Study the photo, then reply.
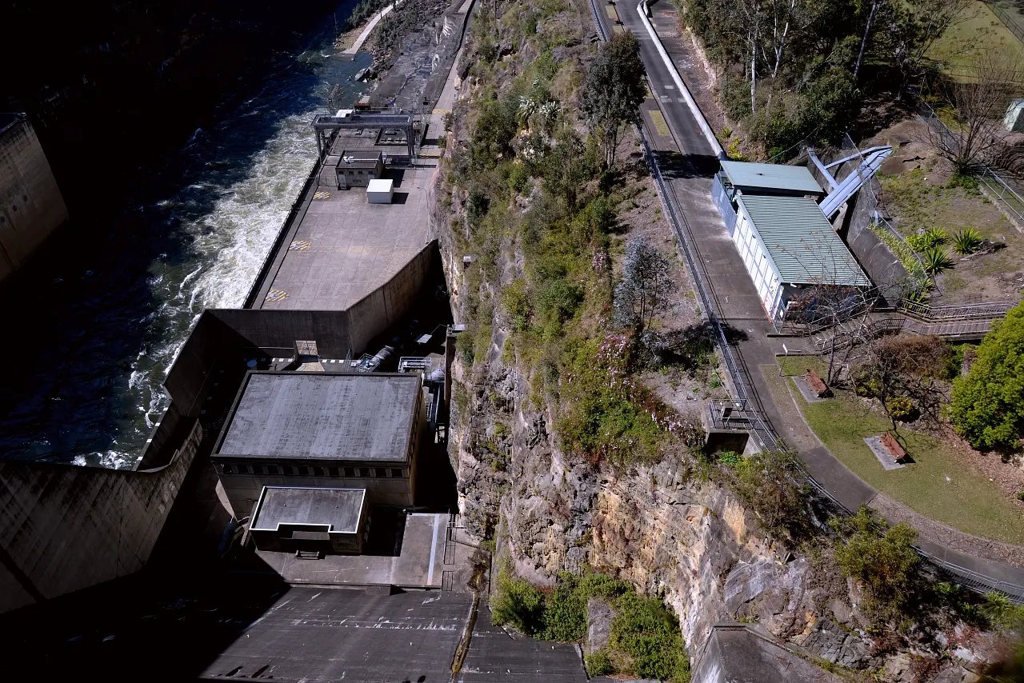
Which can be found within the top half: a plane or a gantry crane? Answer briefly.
gantry crane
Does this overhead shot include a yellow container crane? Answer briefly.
No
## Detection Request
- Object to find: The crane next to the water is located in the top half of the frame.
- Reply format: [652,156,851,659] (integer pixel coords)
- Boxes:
[307,97,427,167]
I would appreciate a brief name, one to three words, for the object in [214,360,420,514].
building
